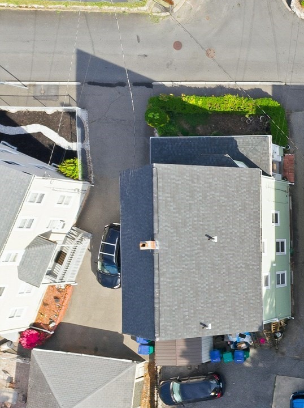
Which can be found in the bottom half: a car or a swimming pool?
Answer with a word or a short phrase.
car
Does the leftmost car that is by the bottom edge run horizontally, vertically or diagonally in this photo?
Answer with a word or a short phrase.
horizontally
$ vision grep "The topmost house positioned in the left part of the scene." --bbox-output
[0,142,98,331]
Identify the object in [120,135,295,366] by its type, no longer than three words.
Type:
house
